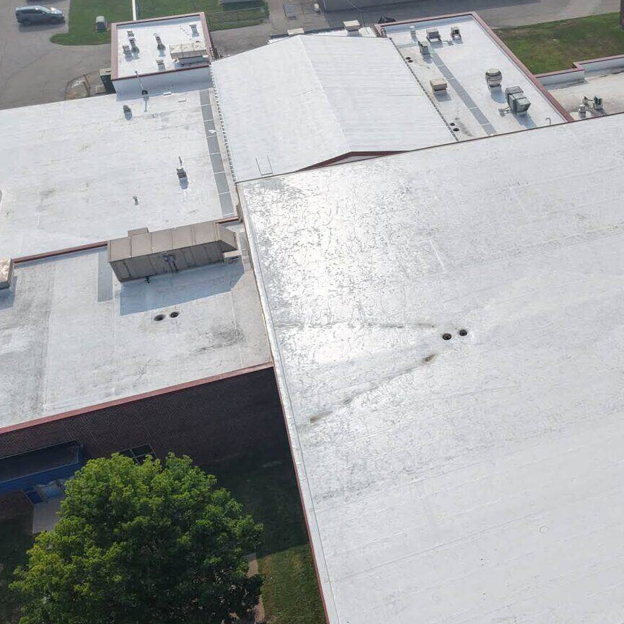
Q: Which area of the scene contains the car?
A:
top left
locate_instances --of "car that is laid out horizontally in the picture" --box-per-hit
[8,1,64,25]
